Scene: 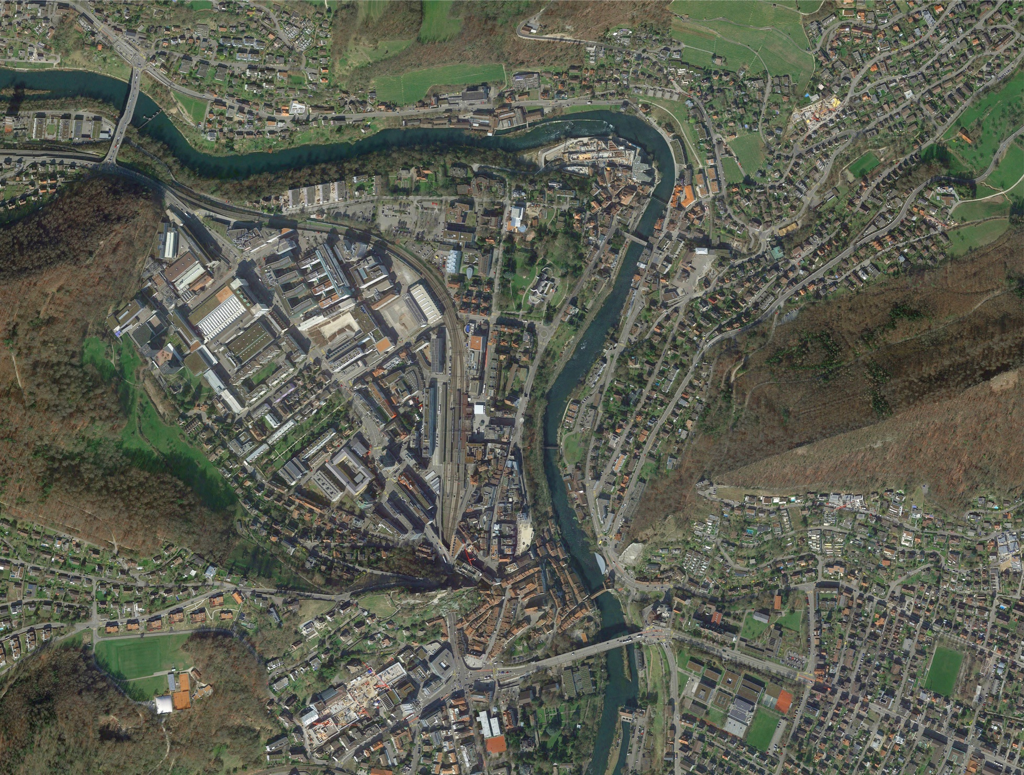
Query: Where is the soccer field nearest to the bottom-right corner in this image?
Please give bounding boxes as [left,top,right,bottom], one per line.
[925,647,964,696]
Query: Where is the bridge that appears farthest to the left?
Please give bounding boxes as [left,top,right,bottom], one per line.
[107,66,140,163]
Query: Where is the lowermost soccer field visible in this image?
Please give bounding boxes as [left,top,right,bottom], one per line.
[747,708,779,751]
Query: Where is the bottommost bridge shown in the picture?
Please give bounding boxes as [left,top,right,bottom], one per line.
[520,629,648,672]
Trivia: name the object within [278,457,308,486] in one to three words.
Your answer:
building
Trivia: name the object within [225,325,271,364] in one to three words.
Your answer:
building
